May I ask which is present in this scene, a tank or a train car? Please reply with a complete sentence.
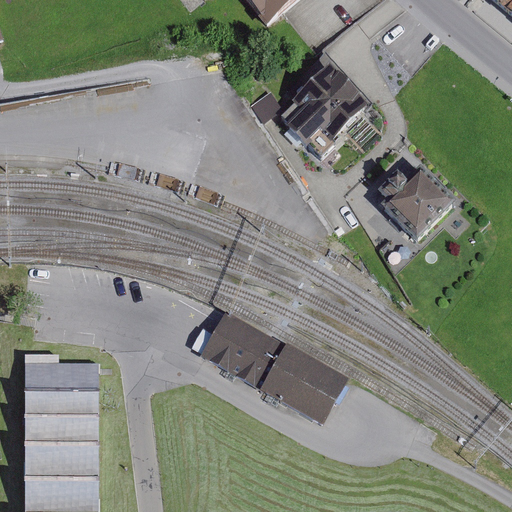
Looking from above, you can make out a train car.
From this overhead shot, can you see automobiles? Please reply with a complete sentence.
Yes, the photo shows an automobile.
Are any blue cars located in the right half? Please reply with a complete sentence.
No, I can find no blue car in the right half.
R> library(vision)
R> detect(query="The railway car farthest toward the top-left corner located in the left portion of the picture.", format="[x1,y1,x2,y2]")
[106,164,146,182]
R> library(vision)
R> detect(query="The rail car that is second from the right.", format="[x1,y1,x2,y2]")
[147,174,186,193]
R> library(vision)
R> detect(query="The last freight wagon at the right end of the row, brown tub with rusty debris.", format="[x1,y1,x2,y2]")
[187,186,225,208]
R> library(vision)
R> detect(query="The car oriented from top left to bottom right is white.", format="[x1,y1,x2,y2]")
[339,206,359,230]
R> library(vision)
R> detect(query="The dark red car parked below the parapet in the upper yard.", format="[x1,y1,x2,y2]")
[334,5,353,26]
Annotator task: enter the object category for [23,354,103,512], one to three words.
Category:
building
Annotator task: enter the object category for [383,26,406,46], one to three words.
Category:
car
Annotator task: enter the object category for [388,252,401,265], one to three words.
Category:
umbrella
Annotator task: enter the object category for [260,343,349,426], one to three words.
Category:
shed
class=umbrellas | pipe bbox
[388,252,401,265]
[398,246,411,259]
